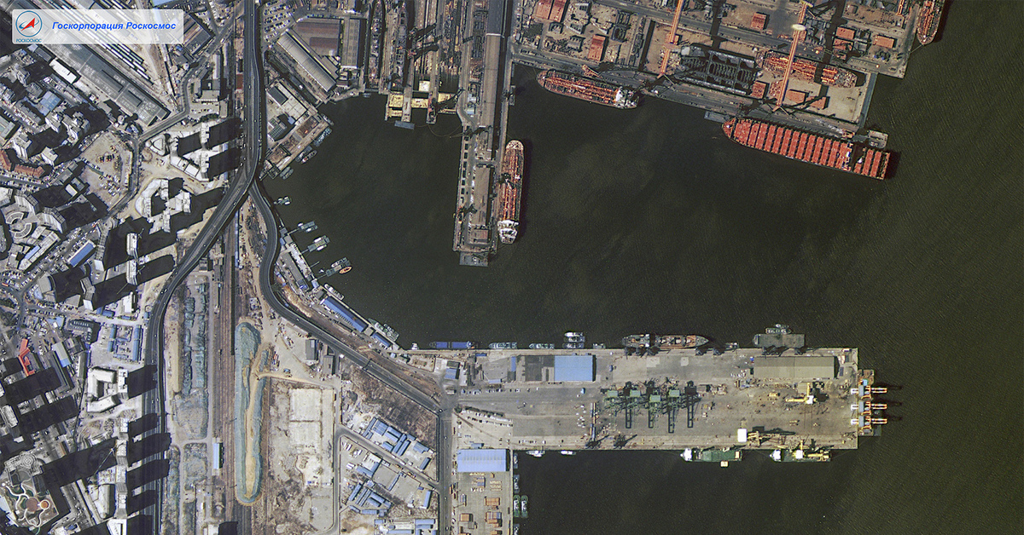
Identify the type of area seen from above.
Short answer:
port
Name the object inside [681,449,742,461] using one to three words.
ship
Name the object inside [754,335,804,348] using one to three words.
ship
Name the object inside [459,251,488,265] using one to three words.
pier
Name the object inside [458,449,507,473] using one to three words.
building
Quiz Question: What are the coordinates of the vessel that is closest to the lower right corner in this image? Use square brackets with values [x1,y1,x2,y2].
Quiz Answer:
[770,439,832,461]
